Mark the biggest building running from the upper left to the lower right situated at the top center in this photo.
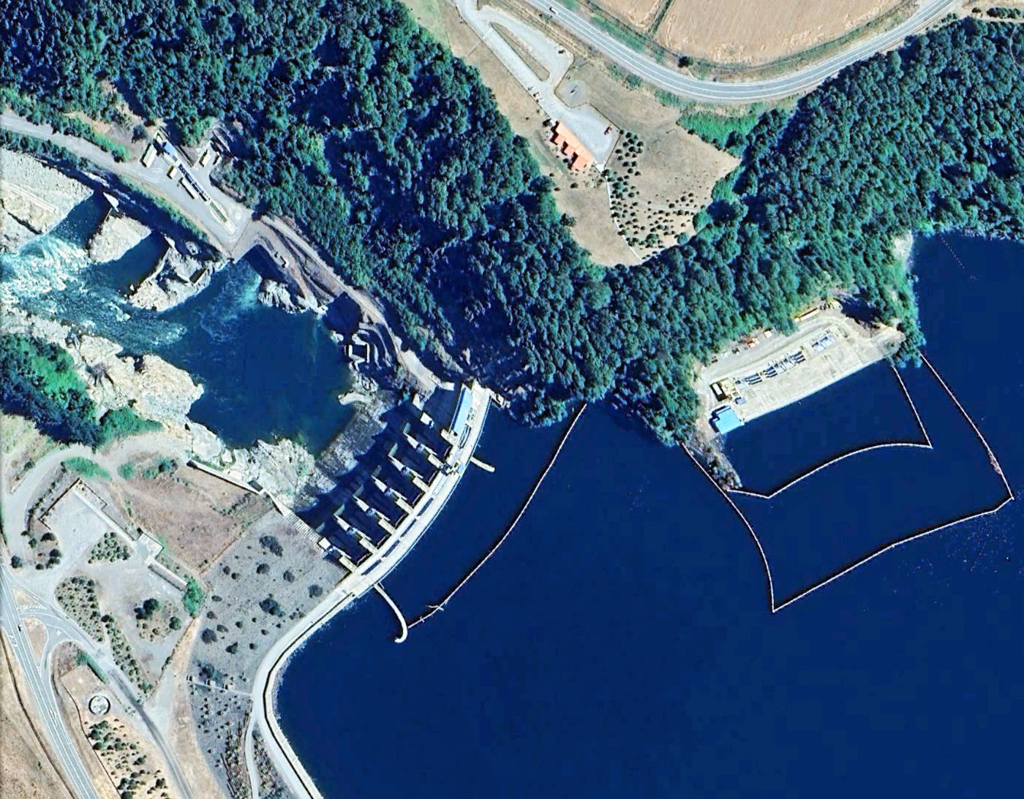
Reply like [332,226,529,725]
[550,119,593,172]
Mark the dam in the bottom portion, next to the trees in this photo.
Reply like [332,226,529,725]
[310,380,506,643]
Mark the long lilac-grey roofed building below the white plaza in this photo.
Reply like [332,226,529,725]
[149,561,187,590]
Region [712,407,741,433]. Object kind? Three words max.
building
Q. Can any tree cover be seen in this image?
Yes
